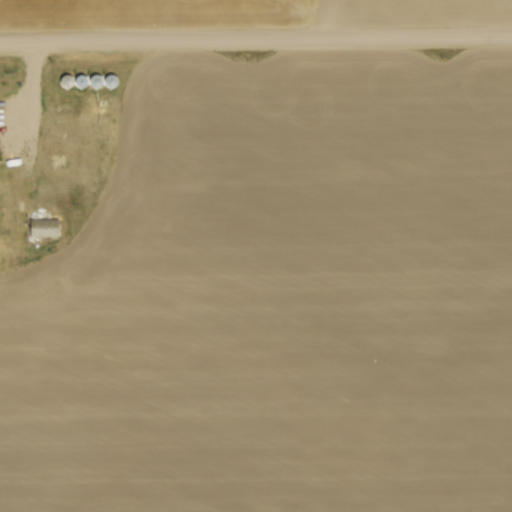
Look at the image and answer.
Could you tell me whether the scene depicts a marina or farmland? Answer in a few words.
farmland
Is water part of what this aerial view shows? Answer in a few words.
No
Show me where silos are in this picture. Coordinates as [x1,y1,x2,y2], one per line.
[60,75,74,91]
[90,75,104,90]
[75,75,90,90]
[104,75,119,91]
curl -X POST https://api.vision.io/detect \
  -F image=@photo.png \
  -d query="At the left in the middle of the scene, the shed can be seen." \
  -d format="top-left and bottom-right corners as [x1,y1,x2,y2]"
[30,219,60,240]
